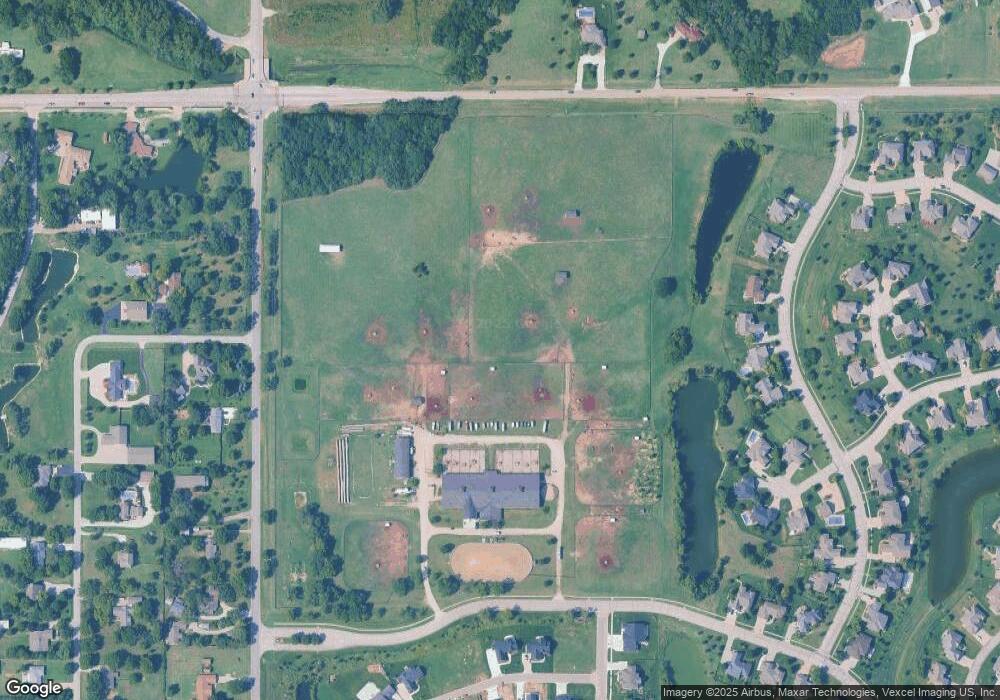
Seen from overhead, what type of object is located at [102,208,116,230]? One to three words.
shed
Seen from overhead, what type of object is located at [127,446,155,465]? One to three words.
barn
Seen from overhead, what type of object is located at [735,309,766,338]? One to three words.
house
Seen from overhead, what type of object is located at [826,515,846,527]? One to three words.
swimming pool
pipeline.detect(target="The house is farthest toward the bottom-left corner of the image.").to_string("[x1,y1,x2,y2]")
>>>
[21,666,44,685]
